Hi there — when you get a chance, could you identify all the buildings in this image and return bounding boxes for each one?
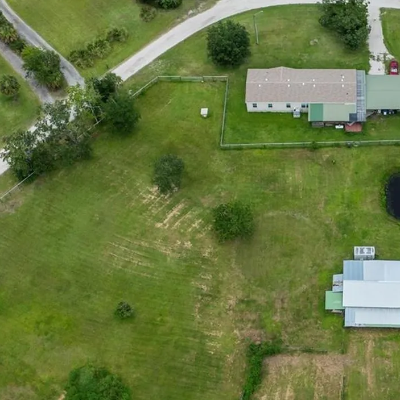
[245,64,367,131]
[326,260,400,332]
